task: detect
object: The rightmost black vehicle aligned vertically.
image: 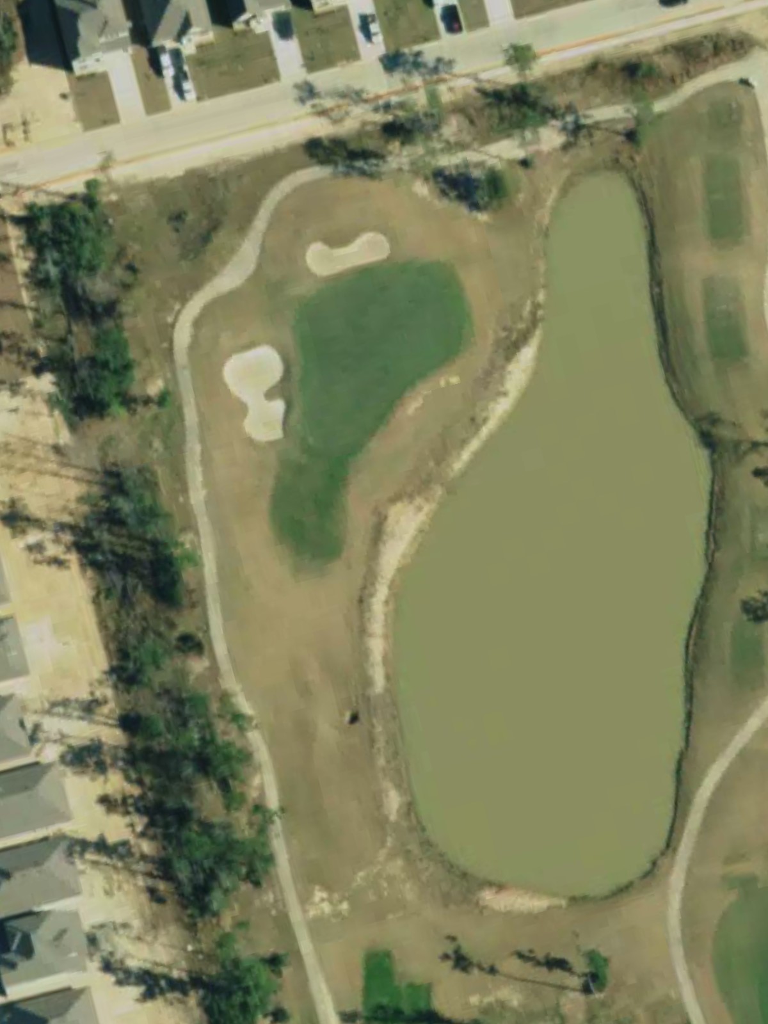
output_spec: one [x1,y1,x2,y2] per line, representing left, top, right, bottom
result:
[446,5,460,30]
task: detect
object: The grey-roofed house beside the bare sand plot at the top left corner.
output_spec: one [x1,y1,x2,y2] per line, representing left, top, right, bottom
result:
[54,0,132,74]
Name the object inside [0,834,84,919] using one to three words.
house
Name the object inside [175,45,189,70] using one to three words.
car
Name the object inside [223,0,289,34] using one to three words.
house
